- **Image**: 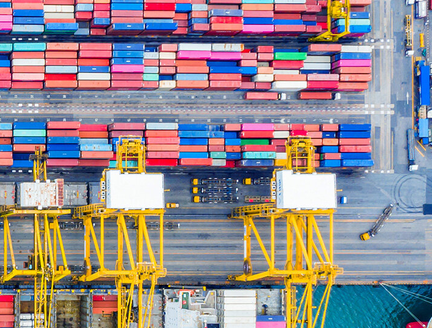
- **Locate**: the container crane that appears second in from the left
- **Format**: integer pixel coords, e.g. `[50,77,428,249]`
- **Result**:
[68,140,165,328]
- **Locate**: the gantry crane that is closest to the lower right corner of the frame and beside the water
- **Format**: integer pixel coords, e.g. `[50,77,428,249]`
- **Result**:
[221,139,345,328]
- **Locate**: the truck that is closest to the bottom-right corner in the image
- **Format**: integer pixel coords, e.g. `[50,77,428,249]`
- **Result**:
[359,206,393,240]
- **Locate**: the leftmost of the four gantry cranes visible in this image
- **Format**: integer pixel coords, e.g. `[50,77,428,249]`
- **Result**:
[0,144,74,328]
